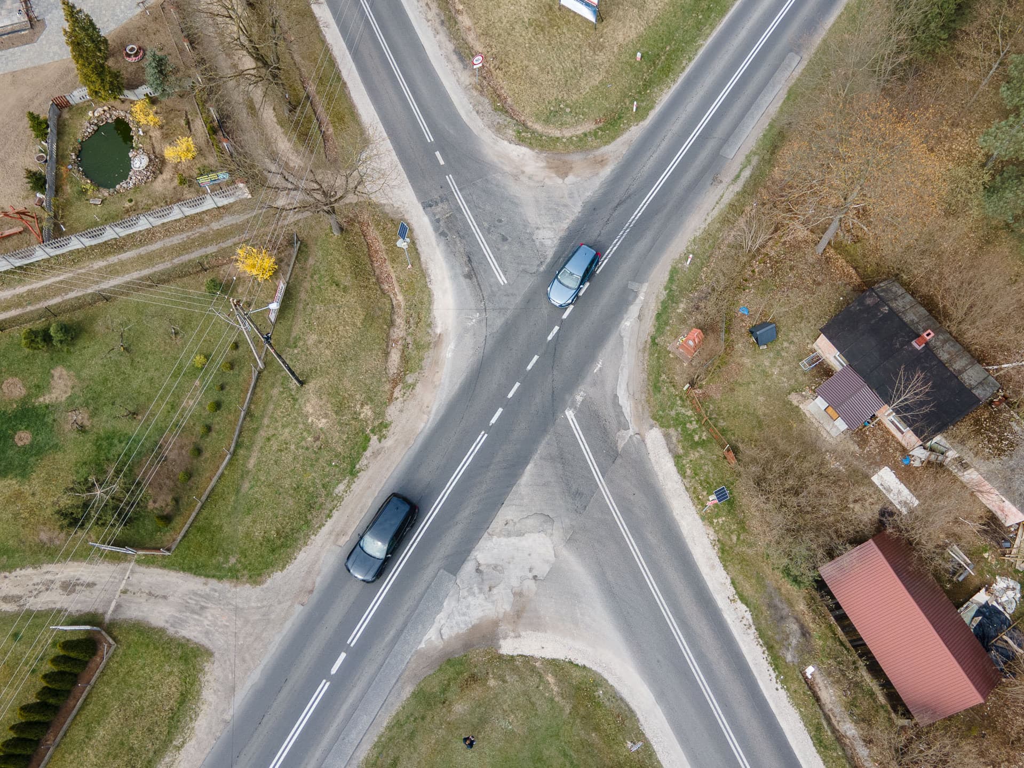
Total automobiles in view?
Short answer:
two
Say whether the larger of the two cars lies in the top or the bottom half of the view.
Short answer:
bottom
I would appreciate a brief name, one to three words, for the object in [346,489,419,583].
car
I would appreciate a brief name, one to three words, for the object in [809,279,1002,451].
house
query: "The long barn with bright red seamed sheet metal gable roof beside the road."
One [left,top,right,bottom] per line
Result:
[808,527,997,724]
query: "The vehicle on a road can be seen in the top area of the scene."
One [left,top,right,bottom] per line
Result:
[548,242,603,310]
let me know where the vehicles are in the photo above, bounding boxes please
[346,489,419,583]
[548,242,603,310]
